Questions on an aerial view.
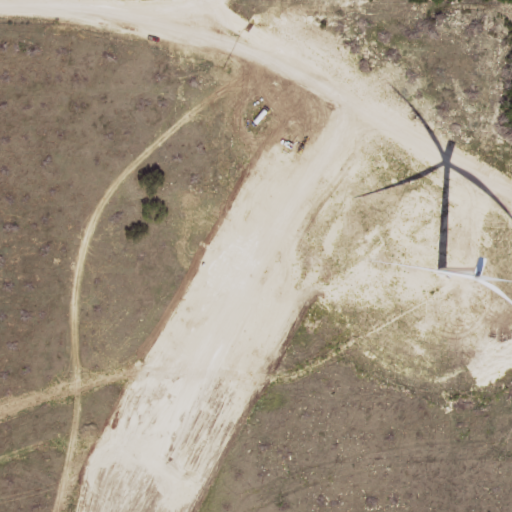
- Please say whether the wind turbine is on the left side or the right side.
right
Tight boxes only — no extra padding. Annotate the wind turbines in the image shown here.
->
[363,256,512,307]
